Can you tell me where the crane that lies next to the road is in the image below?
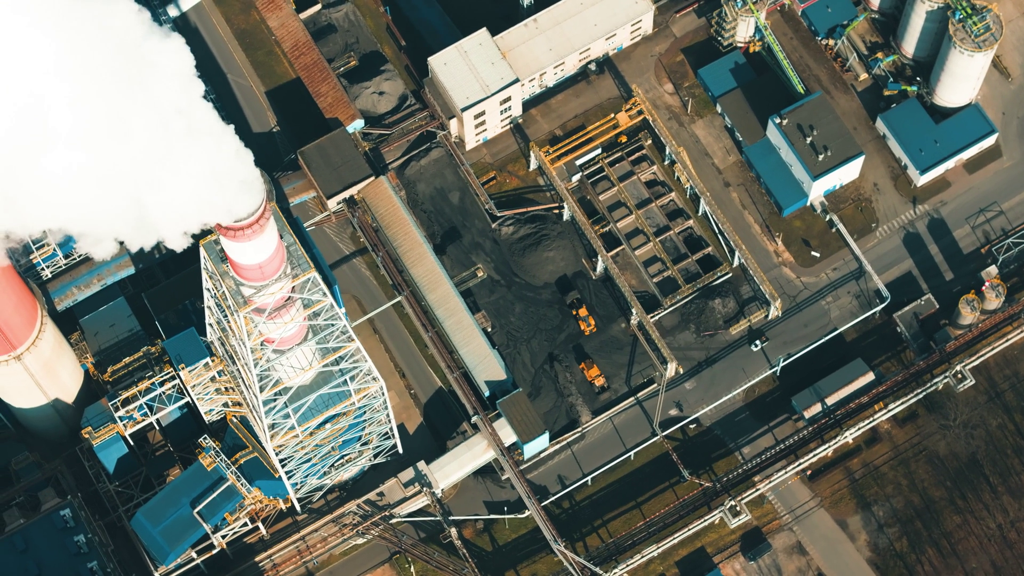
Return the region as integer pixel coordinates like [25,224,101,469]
[533,85,651,171]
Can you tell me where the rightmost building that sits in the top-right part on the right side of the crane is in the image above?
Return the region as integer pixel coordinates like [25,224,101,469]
[873,97,1001,189]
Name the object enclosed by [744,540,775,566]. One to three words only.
vehicle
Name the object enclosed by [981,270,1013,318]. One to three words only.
storage tank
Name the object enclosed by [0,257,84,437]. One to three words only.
chimney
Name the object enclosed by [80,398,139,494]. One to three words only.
house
